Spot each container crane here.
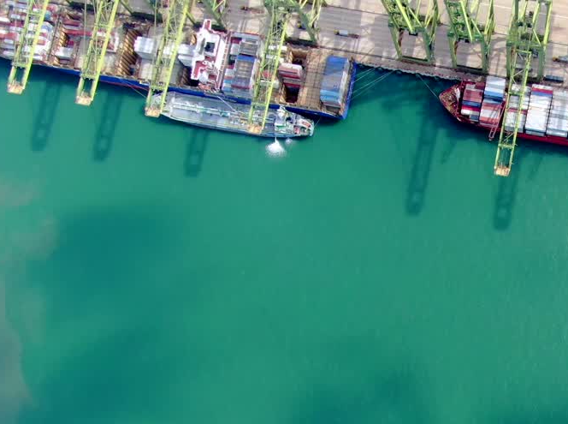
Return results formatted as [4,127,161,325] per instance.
[139,0,237,118]
[241,0,337,136]
[378,0,448,65]
[492,0,558,180]
[2,0,116,94]
[442,0,504,75]
[71,0,176,106]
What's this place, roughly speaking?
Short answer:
port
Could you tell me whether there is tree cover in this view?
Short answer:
No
